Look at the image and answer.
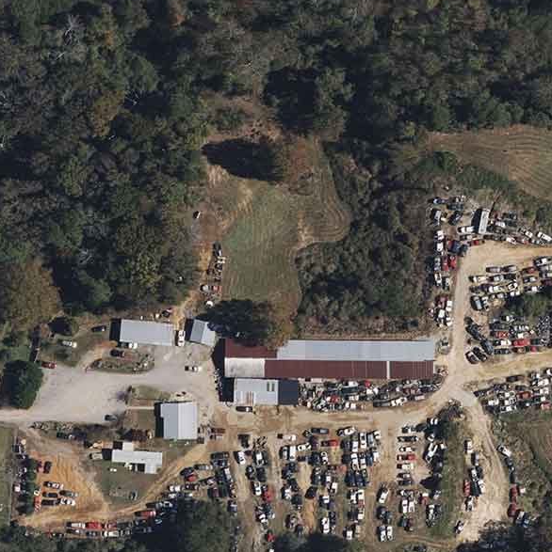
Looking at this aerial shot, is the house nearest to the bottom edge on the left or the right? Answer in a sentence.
The house nearest to the bottom edge appears in the left half of the scene.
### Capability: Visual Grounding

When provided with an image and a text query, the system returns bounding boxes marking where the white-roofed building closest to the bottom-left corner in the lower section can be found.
[112,443,162,474]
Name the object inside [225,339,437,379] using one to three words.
shed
